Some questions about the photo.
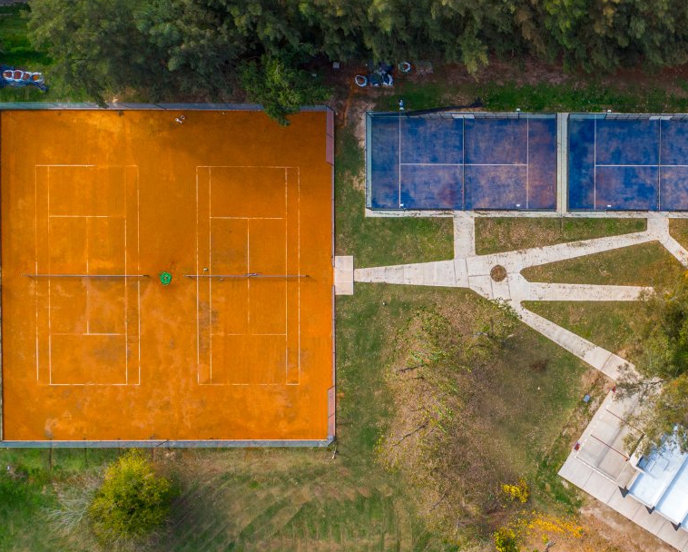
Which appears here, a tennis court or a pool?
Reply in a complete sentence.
The image shows a tennis court.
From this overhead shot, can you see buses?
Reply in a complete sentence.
No, there's no bus here.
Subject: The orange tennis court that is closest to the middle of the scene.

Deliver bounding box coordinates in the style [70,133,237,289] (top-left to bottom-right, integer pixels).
[168,109,333,440]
